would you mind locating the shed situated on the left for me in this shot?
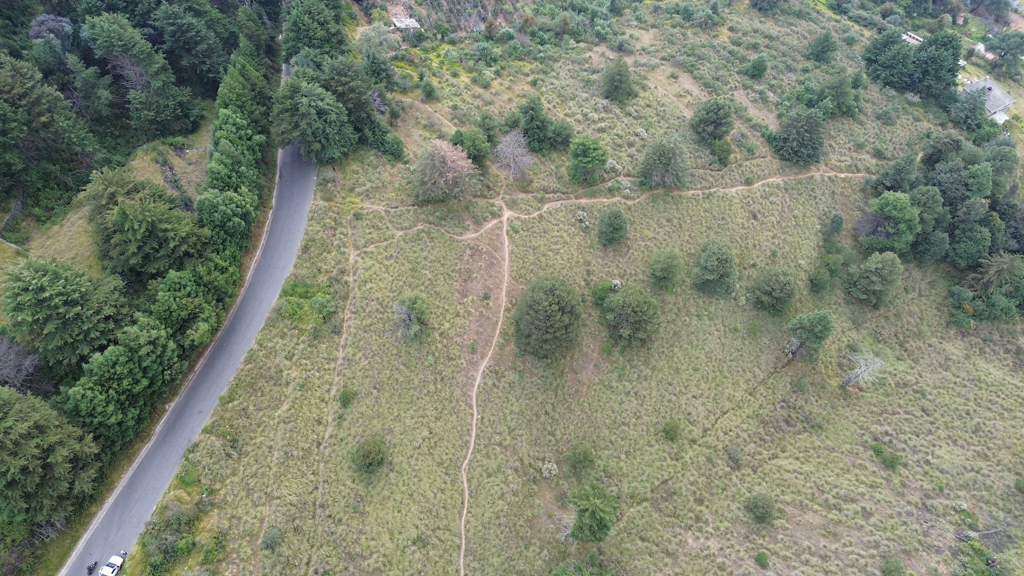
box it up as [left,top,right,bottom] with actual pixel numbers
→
[394,18,422,36]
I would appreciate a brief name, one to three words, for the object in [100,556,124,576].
vehicle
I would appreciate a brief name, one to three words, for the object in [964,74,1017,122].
house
